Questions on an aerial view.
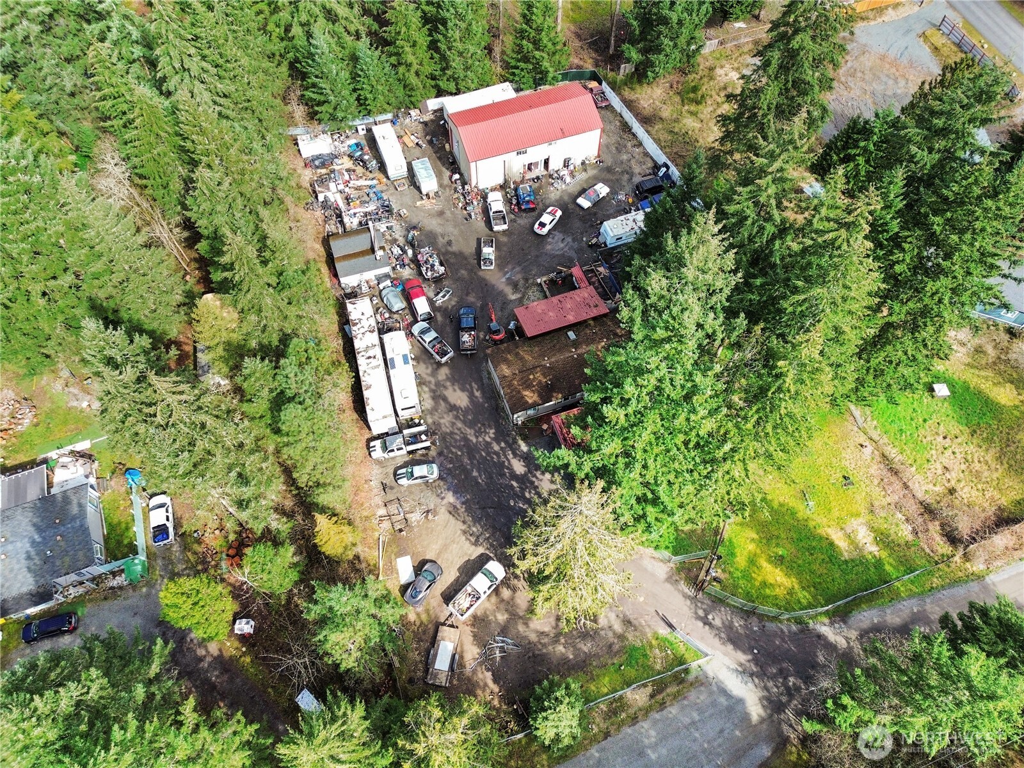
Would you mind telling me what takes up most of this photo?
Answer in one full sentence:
For the most part, this view shows trees.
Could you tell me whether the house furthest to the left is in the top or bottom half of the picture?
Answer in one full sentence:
Seen from above, the house furthest to the left lies in the bottom half of the view.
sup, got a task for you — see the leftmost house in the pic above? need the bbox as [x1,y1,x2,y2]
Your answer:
[0,476,108,639]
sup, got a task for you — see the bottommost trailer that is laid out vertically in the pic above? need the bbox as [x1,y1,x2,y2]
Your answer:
[425,615,461,687]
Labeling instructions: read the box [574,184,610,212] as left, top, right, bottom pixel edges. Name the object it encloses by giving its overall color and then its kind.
white car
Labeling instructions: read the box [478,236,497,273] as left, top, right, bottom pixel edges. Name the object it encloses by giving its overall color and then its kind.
white vehicle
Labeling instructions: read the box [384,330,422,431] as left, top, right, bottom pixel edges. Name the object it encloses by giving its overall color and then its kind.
white trailer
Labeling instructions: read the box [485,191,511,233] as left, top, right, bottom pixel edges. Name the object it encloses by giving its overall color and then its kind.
white truck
